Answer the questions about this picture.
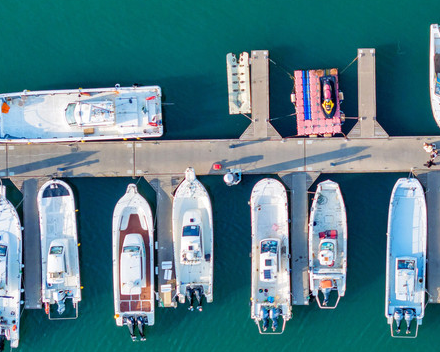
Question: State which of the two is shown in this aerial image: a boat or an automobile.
boat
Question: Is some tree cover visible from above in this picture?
No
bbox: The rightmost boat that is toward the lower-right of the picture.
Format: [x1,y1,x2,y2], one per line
[385,178,428,338]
